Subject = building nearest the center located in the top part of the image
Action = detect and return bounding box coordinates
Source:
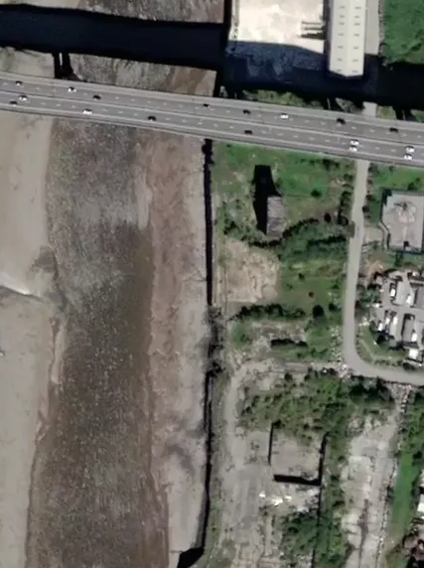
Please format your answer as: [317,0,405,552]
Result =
[261,193,283,236]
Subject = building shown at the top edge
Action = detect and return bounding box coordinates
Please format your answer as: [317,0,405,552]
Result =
[325,0,367,77]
